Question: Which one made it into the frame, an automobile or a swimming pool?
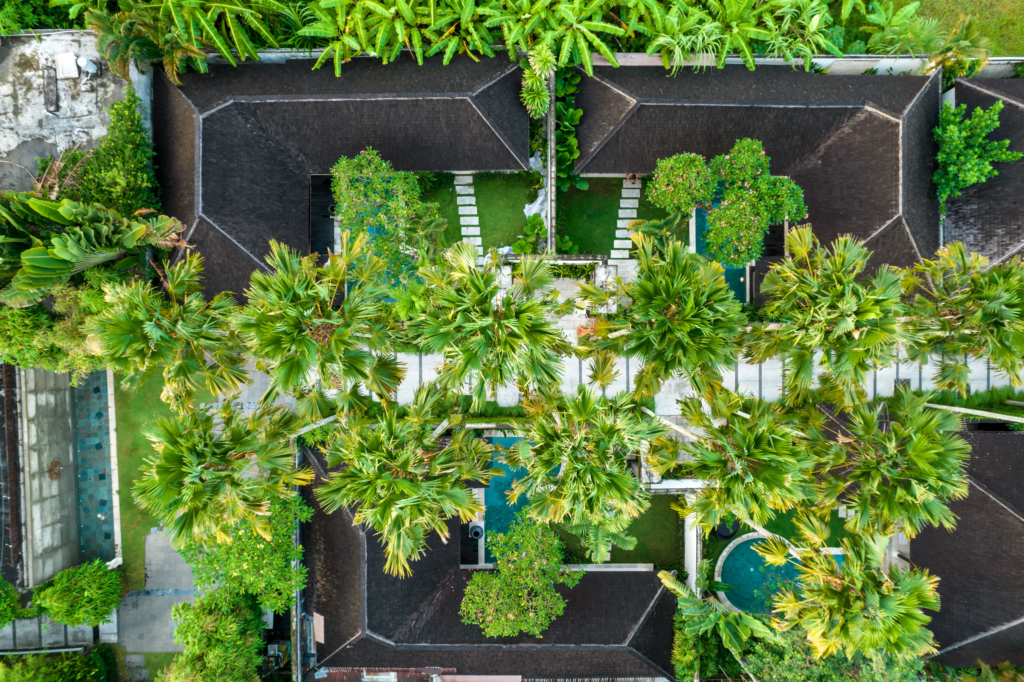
swimming pool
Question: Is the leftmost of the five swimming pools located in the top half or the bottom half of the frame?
bottom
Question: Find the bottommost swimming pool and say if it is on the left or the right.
right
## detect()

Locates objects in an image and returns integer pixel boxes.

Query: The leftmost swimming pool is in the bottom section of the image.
[74,361,121,573]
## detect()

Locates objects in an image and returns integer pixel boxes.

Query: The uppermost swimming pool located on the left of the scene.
[340,171,436,307]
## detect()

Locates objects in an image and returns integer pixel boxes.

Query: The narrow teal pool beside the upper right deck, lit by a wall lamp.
[661,175,753,288]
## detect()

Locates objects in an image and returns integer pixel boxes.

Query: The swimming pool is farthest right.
[715,532,853,620]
